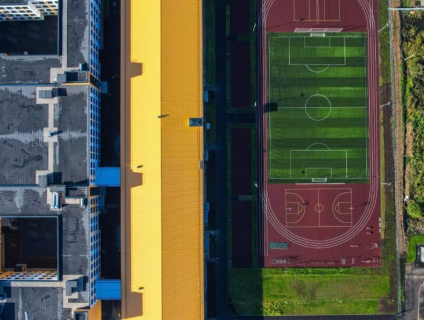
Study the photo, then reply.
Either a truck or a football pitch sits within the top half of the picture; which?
football pitch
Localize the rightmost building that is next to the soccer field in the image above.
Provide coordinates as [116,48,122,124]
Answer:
[121,0,219,320]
